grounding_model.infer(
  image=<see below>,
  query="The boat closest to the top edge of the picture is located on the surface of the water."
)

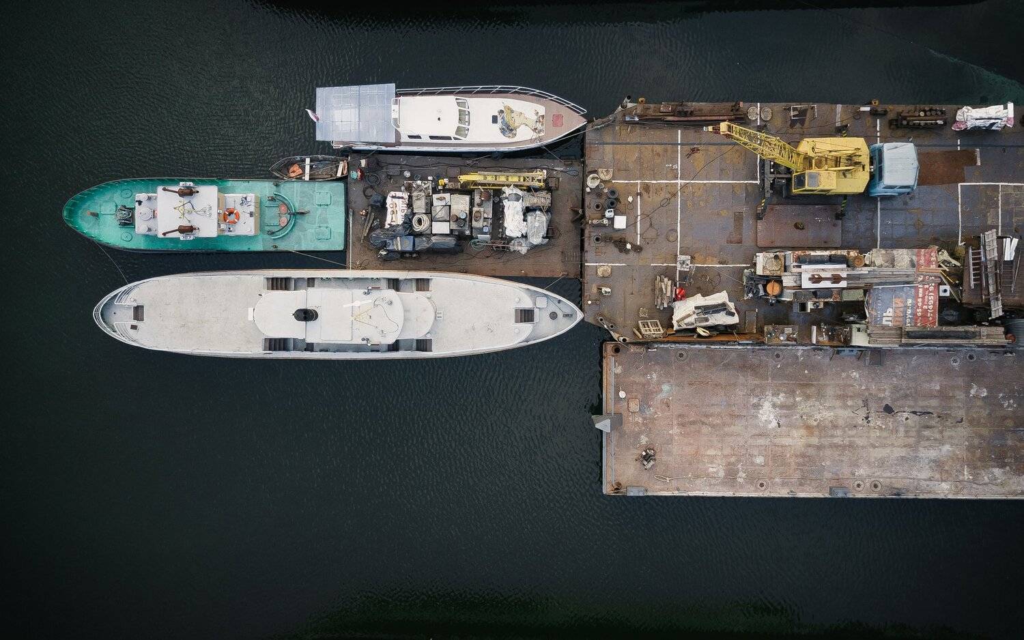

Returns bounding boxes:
[306,84,588,160]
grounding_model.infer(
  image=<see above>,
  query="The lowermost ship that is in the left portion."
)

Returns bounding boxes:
[92,269,584,360]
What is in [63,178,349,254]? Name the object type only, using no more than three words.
boat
